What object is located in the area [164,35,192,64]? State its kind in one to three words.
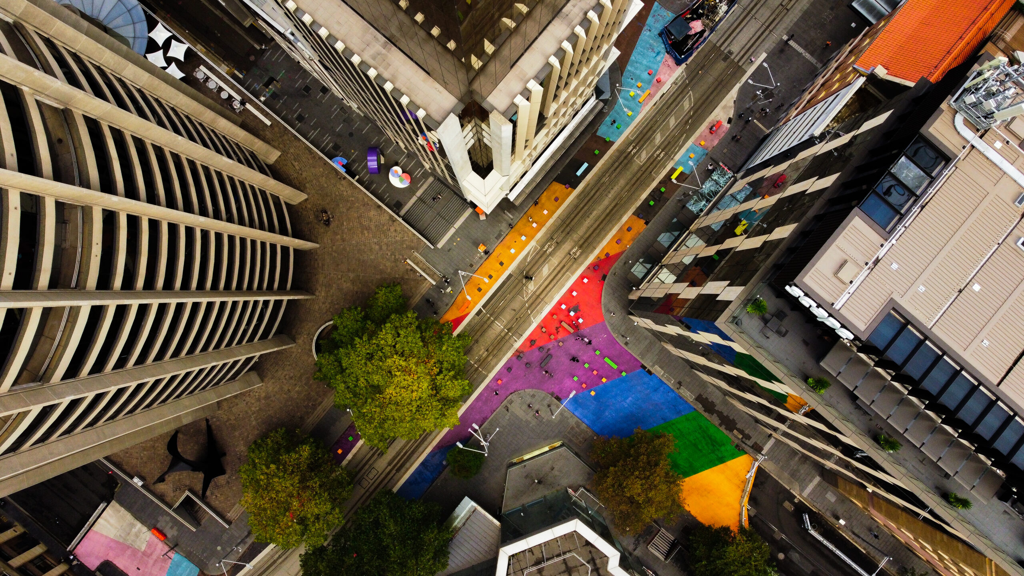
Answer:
umbrella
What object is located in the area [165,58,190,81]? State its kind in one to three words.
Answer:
umbrella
